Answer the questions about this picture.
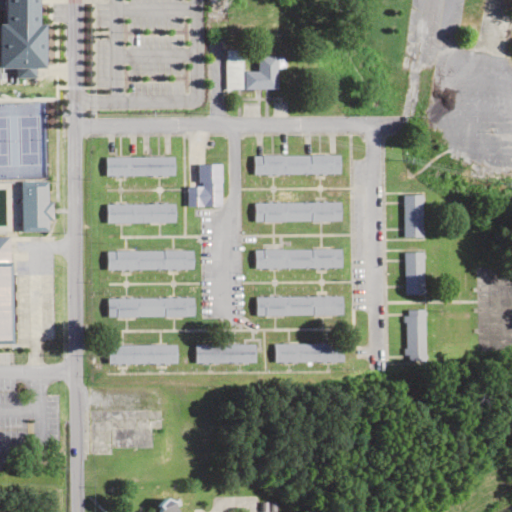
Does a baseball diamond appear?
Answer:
No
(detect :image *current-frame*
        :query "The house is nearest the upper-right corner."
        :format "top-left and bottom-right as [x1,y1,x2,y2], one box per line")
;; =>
[404,194,425,238]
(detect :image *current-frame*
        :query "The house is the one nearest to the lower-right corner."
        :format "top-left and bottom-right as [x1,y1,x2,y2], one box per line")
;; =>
[404,310,428,362]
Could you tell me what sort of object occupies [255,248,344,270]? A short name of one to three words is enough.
building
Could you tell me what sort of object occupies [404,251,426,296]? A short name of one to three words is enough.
house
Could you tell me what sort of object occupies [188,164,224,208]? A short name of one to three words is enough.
building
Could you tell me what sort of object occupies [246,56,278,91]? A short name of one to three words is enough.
house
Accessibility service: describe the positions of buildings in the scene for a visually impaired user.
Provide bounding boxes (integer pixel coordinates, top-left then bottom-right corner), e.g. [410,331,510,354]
[107,202,178,224]
[188,164,224,208]
[255,248,344,270]
[1,0,48,77]
[246,56,278,91]
[22,183,54,232]
[106,156,176,178]
[275,343,346,364]
[159,500,182,512]
[109,344,179,365]
[108,250,194,272]
[404,310,428,362]
[404,194,425,238]
[404,251,426,296]
[255,154,342,176]
[226,50,245,91]
[257,296,345,318]
[0,260,14,344]
[196,344,257,365]
[255,202,343,224]
[108,297,196,319]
